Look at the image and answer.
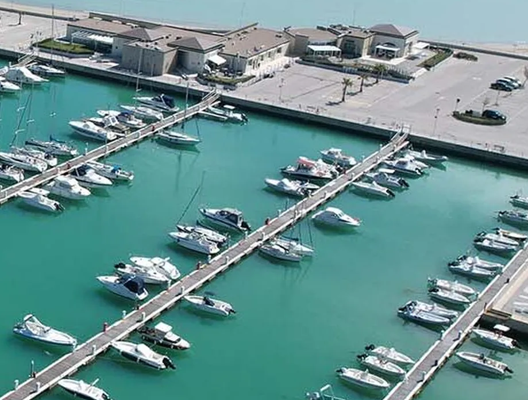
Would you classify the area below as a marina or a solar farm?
marina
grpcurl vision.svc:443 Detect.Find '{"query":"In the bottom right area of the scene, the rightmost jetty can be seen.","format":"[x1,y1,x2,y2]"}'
[485,270,528,340]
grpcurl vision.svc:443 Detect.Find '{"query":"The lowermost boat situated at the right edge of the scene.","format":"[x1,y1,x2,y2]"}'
[458,353,518,377]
